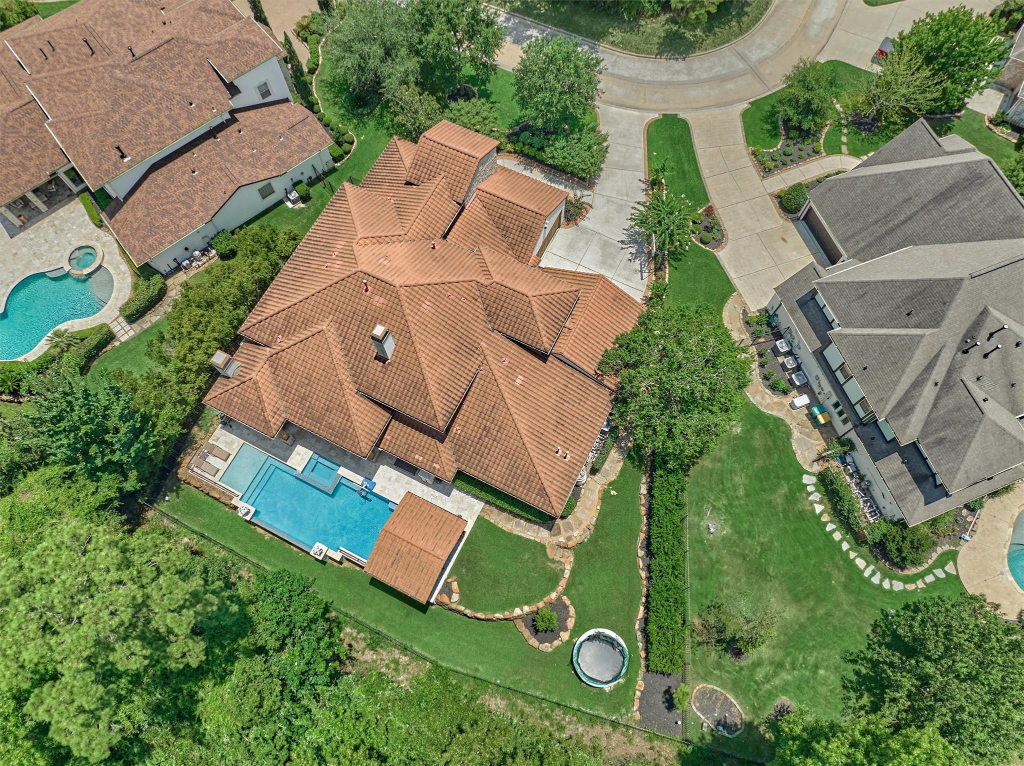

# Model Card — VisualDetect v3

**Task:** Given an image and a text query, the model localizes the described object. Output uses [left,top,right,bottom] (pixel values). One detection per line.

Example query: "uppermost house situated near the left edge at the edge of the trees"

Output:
[0,0,334,277]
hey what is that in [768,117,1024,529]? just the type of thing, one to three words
house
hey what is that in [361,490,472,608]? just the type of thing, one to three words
building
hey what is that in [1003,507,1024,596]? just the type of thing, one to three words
swimming pool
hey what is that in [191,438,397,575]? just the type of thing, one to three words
swimming pool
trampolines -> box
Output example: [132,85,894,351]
[572,627,629,687]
